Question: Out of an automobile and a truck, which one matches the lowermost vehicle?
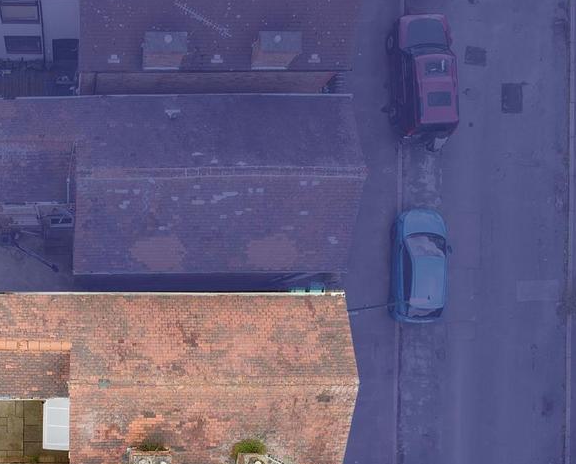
automobile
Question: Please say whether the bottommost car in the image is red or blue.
blue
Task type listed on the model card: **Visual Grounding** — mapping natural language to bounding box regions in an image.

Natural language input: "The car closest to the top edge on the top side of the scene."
[389,15,458,137]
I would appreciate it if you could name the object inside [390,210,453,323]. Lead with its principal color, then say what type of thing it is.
blue car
